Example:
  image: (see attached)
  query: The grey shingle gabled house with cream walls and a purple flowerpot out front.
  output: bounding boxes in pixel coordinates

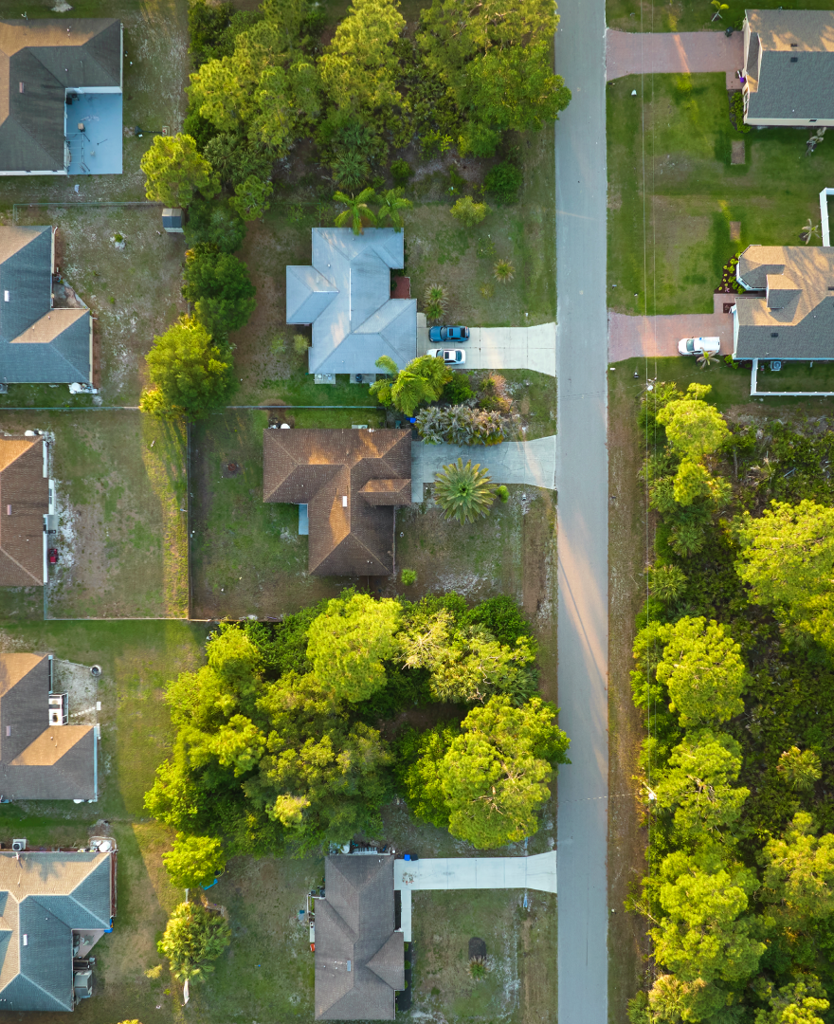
[740,7,834,124]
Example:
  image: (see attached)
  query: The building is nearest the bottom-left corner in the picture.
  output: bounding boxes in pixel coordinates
[0,849,114,1012]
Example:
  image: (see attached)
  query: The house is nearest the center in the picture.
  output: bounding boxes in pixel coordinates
[262,427,412,576]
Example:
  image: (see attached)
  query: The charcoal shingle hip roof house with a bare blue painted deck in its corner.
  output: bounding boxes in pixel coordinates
[0,18,124,175]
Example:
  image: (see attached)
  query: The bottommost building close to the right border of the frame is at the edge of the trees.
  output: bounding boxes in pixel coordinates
[729,244,834,358]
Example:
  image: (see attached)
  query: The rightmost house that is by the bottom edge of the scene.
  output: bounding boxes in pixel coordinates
[314,851,405,1021]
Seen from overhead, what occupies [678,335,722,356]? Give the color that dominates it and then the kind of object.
white truck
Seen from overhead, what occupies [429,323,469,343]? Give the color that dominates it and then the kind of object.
blue car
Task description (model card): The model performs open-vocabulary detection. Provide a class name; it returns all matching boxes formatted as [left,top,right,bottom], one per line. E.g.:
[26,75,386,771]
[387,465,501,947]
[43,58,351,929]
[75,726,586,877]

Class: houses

[729,244,834,358]
[0,18,124,175]
[0,653,98,800]
[314,851,405,1021]
[0,849,114,1012]
[740,7,834,124]
[0,436,53,586]
[262,427,412,576]
[286,227,417,374]
[0,225,94,383]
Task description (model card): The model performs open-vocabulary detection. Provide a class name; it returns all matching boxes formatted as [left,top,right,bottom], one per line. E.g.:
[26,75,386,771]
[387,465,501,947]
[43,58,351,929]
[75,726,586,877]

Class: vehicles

[678,335,722,356]
[427,346,465,365]
[429,323,469,343]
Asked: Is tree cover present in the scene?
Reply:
Yes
